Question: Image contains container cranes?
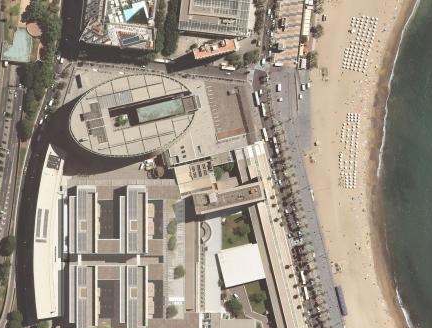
No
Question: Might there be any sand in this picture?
Yes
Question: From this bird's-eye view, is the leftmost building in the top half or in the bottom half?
bottom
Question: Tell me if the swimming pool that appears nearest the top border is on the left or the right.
left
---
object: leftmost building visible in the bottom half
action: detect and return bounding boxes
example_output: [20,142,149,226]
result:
[34,138,68,320]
